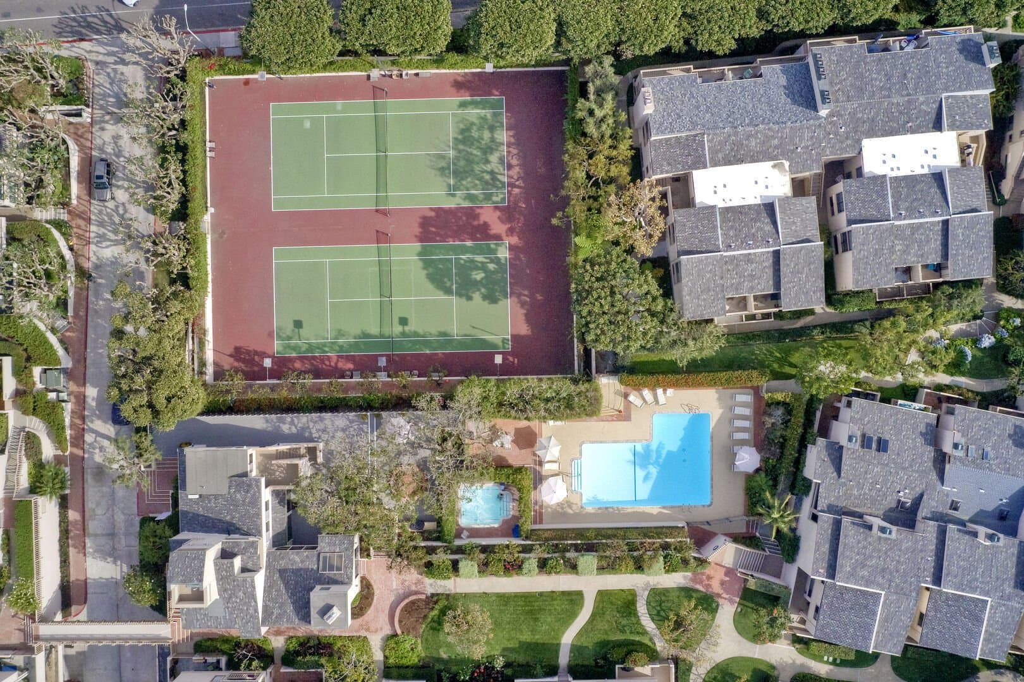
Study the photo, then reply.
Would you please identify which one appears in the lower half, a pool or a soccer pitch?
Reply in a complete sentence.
What appears in the lower half is a pool.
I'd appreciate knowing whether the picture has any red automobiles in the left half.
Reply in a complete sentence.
No, no red automobile appears in the left half.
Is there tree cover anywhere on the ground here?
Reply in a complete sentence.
Yes, some tree cover is visible.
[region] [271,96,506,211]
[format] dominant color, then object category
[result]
green tennis court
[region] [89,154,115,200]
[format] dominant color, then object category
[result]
gray car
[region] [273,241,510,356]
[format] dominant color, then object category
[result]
green tennis court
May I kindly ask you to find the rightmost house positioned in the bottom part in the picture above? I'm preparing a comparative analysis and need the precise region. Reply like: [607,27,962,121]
[908,388,1024,666]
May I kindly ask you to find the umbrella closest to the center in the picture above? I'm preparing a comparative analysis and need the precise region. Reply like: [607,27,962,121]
[535,434,561,461]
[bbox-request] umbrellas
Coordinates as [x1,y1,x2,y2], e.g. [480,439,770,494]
[535,434,561,461]
[733,445,761,473]
[540,476,568,504]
